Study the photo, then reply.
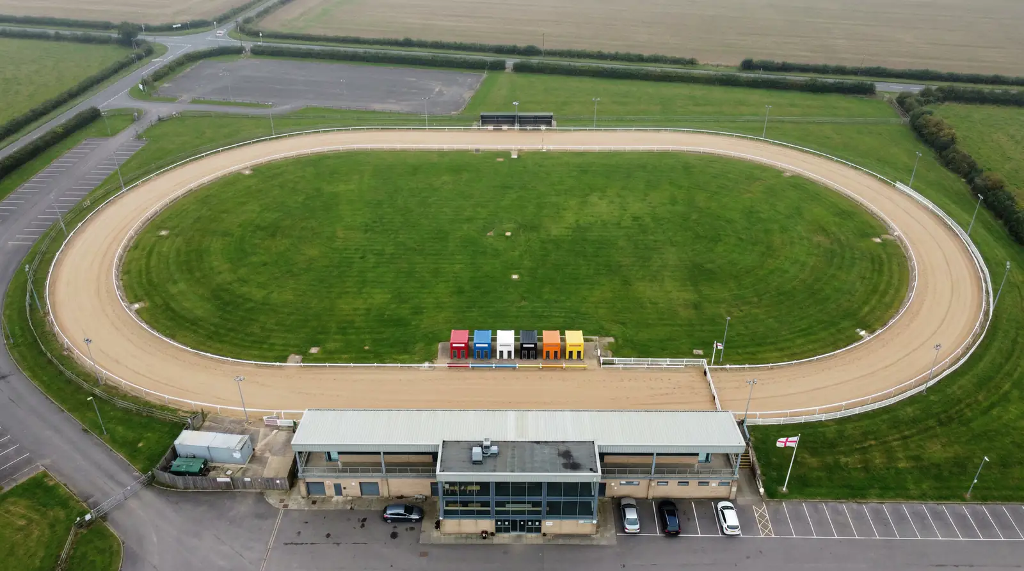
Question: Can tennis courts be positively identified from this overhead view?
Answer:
No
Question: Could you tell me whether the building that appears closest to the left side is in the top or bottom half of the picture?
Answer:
bottom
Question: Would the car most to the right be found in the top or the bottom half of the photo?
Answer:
bottom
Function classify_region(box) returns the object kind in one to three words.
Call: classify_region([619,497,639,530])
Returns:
car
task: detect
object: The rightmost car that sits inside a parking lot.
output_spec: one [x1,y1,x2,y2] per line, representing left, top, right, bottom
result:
[717,502,739,533]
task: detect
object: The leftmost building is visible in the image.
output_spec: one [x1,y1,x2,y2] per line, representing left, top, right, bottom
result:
[173,429,254,466]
